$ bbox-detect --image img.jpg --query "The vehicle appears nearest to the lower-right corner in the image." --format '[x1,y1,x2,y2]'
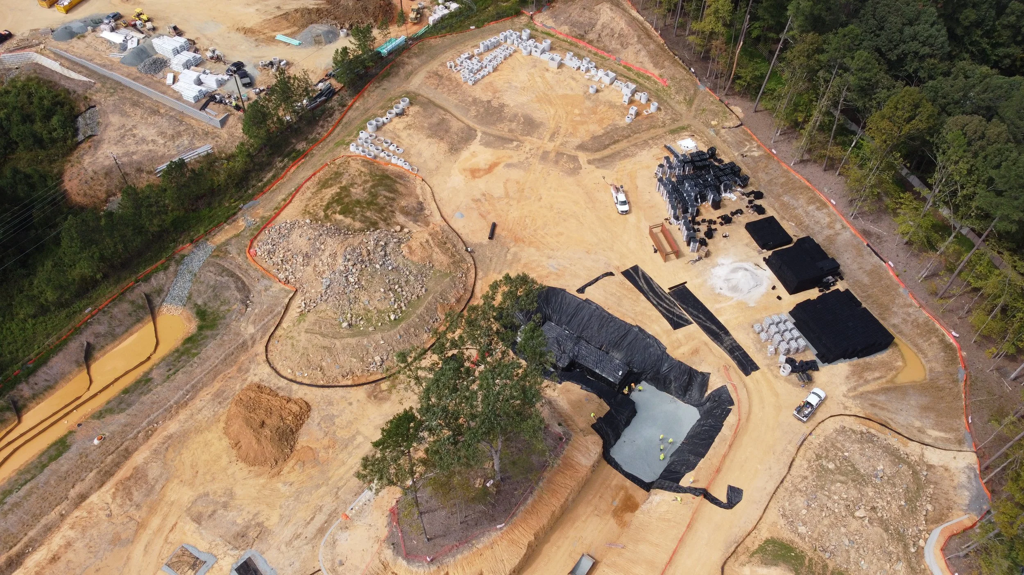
[797,386,825,421]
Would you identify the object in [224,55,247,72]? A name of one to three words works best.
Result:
vehicle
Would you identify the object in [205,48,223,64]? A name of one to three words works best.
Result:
work vehicle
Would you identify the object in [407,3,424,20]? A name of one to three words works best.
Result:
work vehicle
